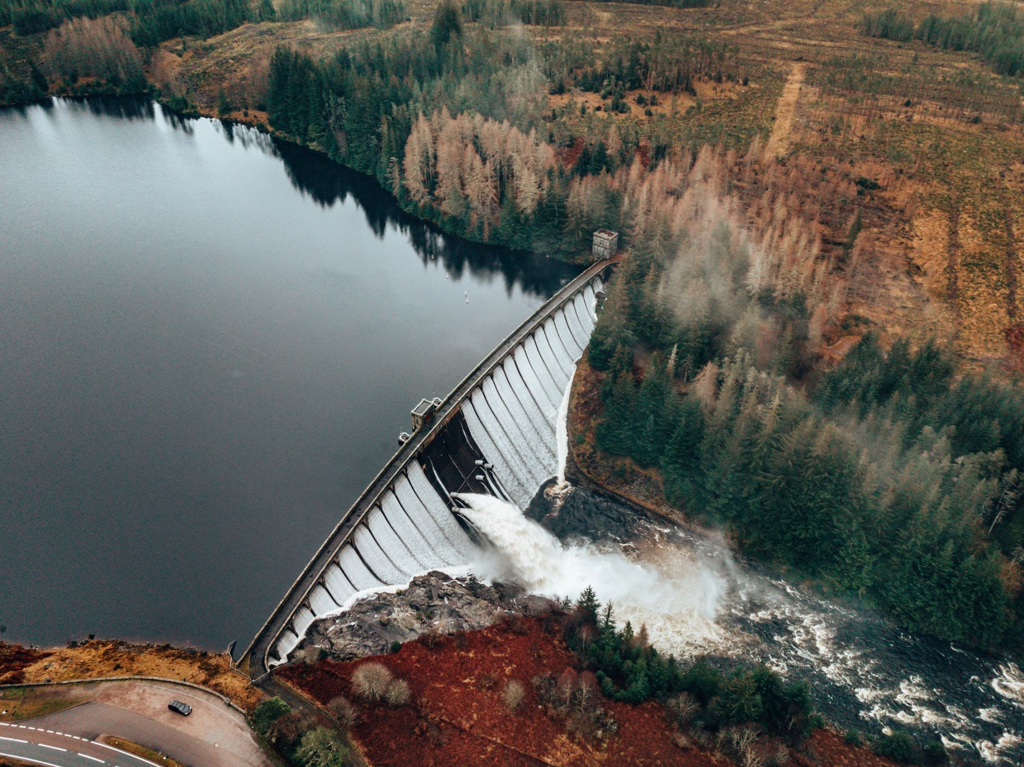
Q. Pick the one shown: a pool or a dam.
dam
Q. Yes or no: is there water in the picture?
Yes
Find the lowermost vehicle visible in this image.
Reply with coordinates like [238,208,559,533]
[167,703,191,719]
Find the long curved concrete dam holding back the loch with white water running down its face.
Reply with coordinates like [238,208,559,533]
[236,258,618,687]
